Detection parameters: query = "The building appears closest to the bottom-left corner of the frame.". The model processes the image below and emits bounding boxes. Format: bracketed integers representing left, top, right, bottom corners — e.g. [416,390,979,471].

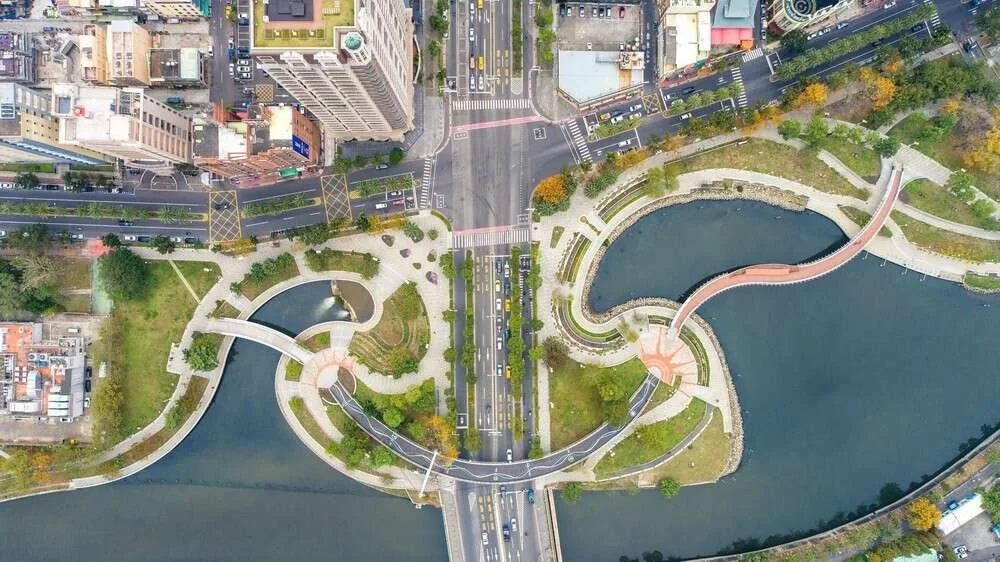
[0,322,85,416]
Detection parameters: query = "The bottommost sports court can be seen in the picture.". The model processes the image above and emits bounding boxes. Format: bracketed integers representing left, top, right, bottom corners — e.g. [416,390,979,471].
[92,257,113,312]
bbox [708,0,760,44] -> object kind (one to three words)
house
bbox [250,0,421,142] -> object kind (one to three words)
building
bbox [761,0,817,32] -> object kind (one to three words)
building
